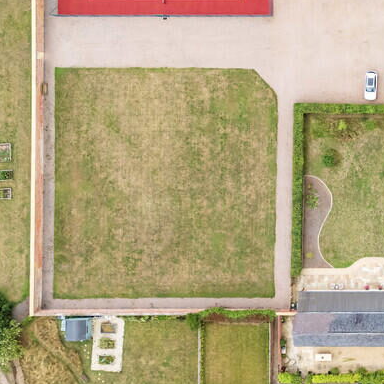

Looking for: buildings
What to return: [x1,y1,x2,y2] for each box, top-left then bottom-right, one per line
[293,286,384,347]
[65,316,93,340]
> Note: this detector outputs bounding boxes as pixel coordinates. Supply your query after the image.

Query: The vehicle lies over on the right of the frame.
[365,71,377,100]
